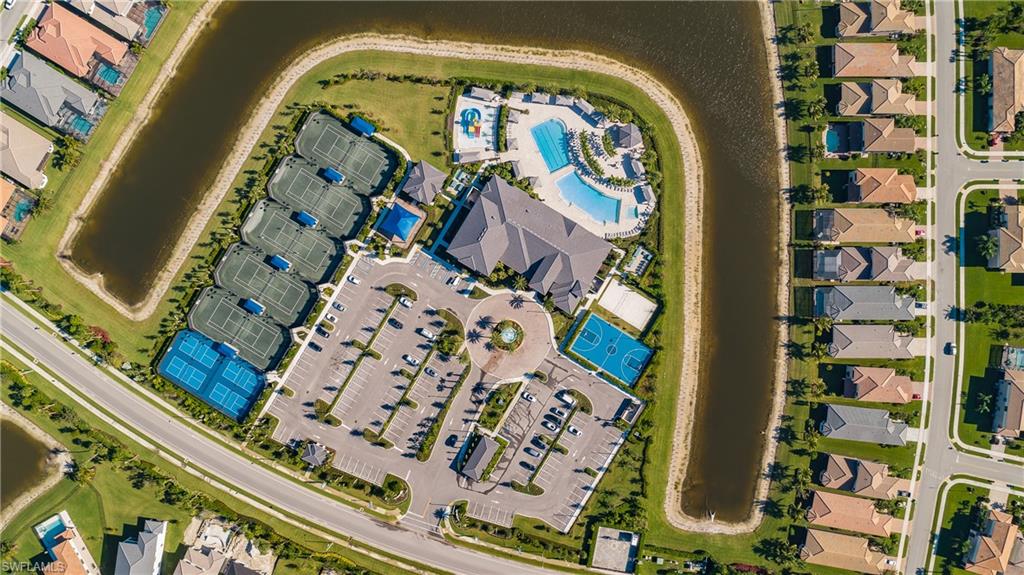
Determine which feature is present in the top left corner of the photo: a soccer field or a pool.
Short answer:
pool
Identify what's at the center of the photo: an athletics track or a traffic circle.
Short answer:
traffic circle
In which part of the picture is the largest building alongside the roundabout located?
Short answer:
center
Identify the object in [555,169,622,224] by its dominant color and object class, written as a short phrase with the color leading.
blue swimming pool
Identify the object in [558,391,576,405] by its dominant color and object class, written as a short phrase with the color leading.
white vehicle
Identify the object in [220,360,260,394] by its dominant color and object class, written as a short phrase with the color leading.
blue sports court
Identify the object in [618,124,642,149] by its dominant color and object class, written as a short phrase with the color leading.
gray gazebo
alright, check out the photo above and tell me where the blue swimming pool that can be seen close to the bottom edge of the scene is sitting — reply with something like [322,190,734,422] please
[43,519,67,548]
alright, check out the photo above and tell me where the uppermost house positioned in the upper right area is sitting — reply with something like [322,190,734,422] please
[835,0,915,37]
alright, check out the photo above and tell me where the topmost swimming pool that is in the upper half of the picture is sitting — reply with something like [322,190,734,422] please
[145,6,161,39]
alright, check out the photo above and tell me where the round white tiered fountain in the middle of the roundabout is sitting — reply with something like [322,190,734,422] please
[501,327,517,343]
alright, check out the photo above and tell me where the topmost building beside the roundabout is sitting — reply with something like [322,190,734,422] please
[447,175,613,317]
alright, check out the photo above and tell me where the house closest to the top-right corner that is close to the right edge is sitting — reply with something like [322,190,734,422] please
[989,47,1024,132]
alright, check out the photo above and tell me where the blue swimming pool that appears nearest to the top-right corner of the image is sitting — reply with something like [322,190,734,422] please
[826,129,841,153]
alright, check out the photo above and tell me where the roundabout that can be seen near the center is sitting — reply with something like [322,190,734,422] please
[466,292,551,378]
